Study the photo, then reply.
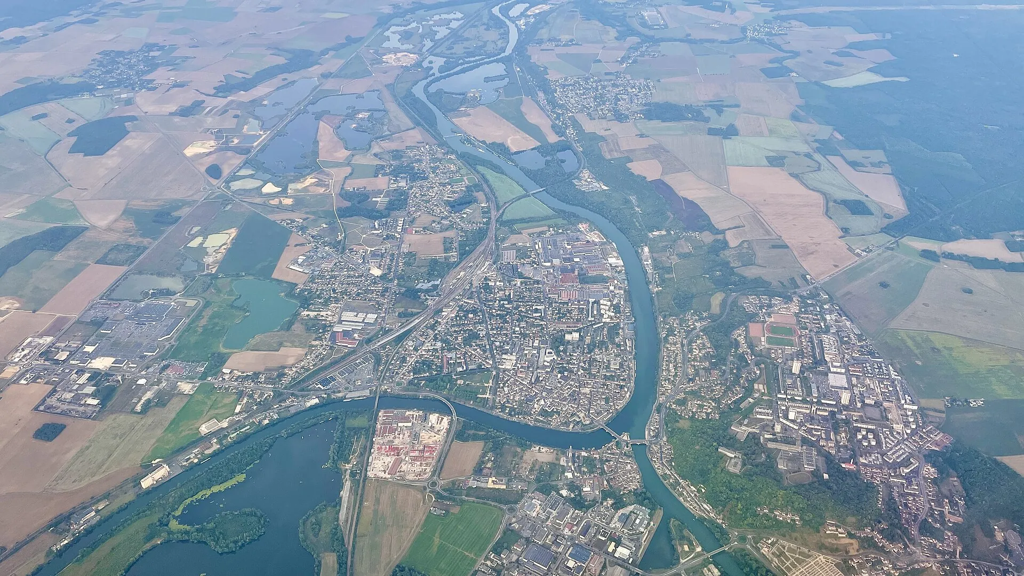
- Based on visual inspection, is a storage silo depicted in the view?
Yes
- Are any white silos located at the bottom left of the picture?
Yes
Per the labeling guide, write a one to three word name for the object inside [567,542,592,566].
building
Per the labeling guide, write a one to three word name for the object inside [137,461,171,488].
silo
